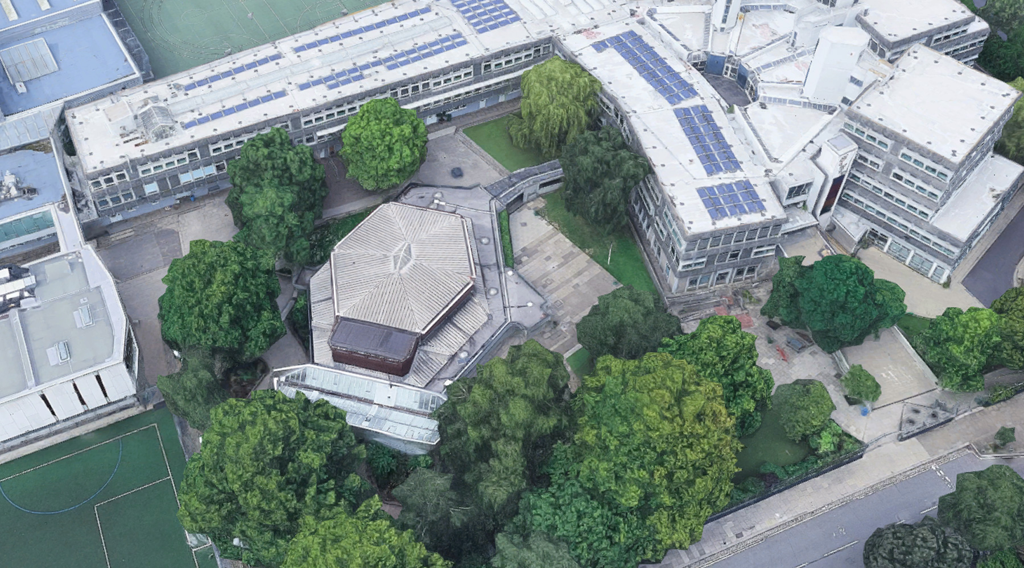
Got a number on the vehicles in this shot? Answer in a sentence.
The photo contains no vehicles.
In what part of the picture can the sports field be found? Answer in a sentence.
The sports field is located in the bottom left region of the scene.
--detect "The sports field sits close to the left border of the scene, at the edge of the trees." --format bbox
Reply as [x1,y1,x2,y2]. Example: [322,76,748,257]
[0,405,222,568]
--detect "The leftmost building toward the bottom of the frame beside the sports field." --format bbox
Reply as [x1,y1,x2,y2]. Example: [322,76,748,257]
[0,243,141,446]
